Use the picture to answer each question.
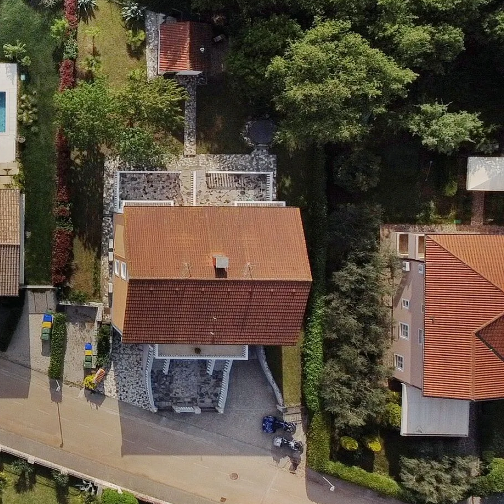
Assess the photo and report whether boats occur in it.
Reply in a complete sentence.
No, I can't see a single boat in this photo.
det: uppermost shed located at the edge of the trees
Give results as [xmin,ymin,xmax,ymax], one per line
[154,20,214,75]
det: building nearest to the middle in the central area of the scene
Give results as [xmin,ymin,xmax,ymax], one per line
[112,171,313,418]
